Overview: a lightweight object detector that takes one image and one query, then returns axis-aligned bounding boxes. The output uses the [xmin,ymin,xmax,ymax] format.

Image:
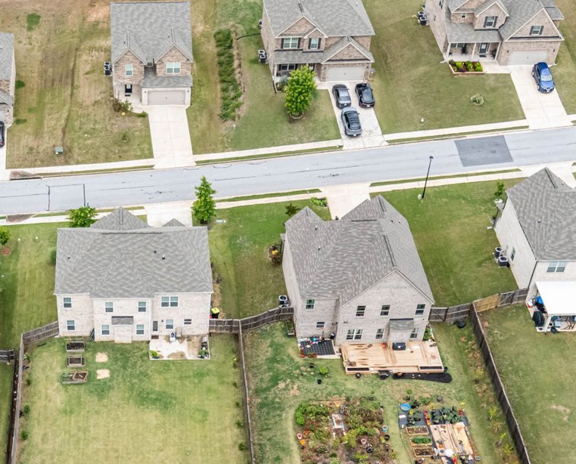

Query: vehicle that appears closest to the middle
[343,109,363,133]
